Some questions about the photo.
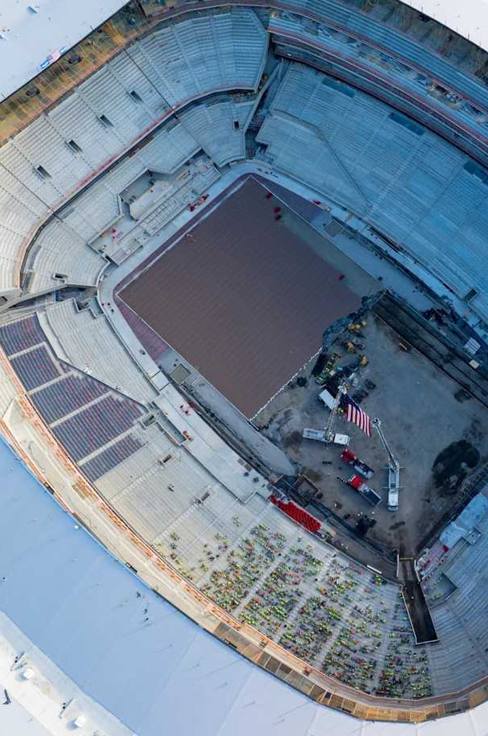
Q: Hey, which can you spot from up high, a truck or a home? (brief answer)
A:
truck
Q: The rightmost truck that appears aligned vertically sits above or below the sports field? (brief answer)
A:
below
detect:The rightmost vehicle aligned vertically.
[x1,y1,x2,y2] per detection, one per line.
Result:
[372,417,405,510]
